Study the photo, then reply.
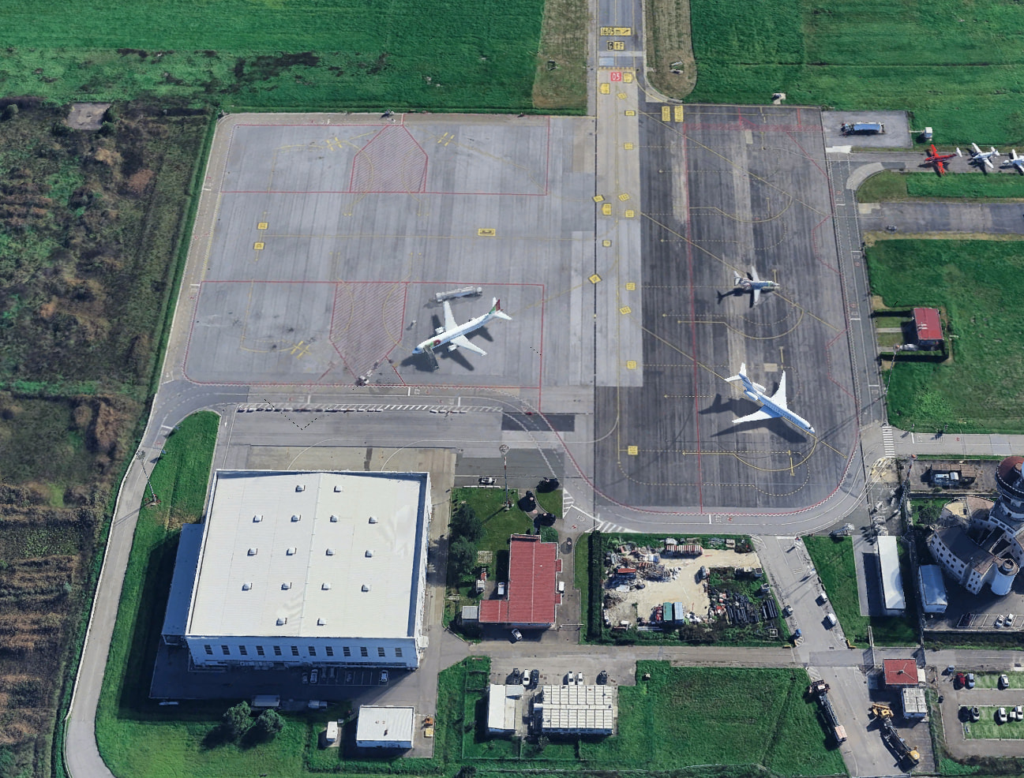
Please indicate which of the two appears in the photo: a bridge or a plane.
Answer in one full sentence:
I can see a plane in this picture.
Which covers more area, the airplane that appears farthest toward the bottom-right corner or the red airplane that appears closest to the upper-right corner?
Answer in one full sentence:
The airplane that appears farthest toward the bottom-right corner covers a greater area than the red airplane that appears closest to the upper-right corner.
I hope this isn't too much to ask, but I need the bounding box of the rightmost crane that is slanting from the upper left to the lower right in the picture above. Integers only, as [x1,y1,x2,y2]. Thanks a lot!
[870,704,920,763]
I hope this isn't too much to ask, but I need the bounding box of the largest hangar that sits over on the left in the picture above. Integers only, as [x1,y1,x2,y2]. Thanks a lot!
[186,471,432,669]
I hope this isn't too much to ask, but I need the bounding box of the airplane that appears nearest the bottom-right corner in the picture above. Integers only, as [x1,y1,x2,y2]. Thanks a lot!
[728,357,815,432]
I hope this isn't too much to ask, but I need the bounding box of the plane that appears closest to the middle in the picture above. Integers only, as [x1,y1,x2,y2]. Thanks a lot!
[411,291,512,353]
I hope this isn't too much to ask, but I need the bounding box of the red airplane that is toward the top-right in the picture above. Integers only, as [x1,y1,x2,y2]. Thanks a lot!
[923,144,964,172]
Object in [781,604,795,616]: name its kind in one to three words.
vehicle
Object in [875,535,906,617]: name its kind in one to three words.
shed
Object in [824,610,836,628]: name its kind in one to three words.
vehicle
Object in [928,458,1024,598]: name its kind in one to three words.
building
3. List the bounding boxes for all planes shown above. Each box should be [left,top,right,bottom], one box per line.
[728,357,815,432]
[733,267,779,297]
[923,144,964,172]
[411,291,512,353]
[1001,147,1024,173]
[971,142,1004,169]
